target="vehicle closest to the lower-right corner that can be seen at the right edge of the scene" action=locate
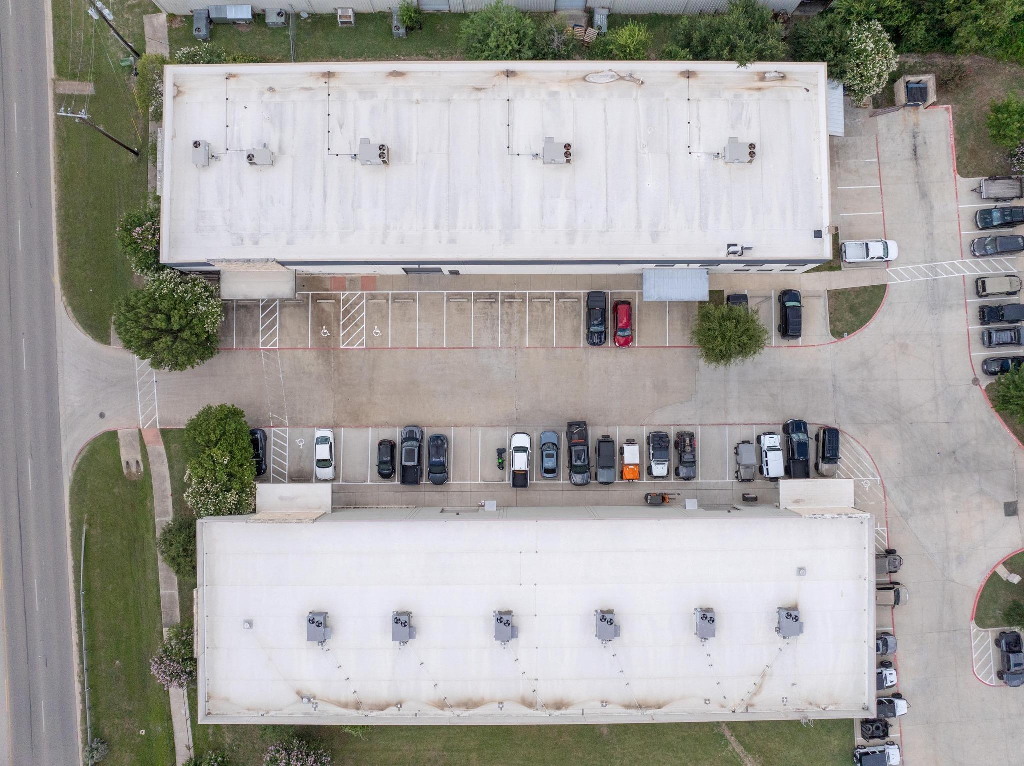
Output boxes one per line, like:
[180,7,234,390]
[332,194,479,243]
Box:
[992,628,1024,688]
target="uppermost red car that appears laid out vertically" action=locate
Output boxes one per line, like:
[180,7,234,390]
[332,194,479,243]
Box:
[612,300,635,348]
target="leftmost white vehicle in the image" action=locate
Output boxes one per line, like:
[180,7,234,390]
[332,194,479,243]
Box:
[313,430,337,481]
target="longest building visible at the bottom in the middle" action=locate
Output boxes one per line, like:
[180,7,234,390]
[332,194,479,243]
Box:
[191,479,877,724]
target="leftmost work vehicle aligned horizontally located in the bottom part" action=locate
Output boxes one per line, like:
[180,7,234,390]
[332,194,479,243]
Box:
[643,492,675,506]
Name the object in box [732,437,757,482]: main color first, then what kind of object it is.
gray car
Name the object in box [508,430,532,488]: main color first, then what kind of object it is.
white truck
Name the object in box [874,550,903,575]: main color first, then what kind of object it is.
gray car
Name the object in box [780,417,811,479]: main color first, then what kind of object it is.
black truck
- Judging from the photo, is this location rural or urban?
urban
